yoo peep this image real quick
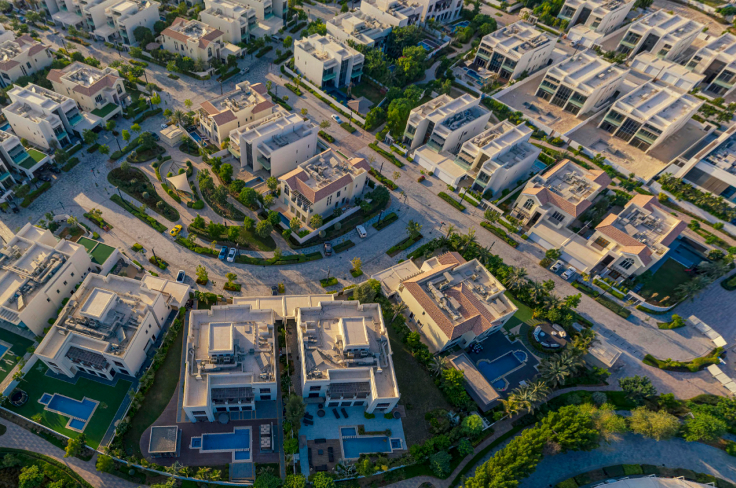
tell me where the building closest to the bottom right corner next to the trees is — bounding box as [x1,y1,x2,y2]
[584,336,623,372]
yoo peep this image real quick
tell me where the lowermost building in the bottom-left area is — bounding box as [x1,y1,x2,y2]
[151,425,179,455]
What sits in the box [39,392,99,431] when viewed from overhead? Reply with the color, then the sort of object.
blue swimming pool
